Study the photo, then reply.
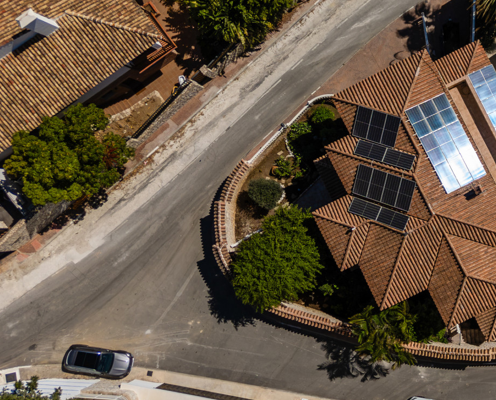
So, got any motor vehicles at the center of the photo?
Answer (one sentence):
No, no motor vehicle is visible at the center of the photo.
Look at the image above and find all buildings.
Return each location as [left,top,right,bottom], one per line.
[0,0,165,156]
[310,41,496,344]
